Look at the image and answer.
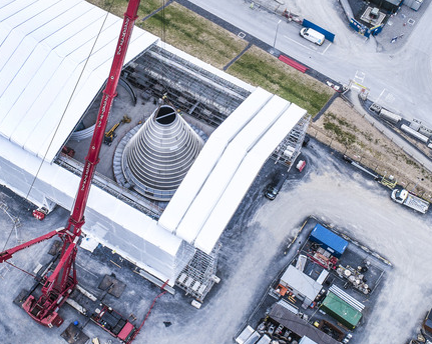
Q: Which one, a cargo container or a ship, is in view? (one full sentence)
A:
Looking from above, you can make out a cargo container.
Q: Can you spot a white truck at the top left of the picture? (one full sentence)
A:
No, there is no white truck at the top left of the picture.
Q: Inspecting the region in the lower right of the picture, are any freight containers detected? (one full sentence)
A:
Yes, I can see a freight container in the lower right of the picture.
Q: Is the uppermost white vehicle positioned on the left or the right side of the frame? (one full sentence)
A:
You can find the uppermost white vehicle on the right side of the picture.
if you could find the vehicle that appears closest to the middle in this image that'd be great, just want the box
[263,171,287,200]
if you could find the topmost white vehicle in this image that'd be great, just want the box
[297,26,328,48]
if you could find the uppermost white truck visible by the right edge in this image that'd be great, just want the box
[392,186,431,217]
